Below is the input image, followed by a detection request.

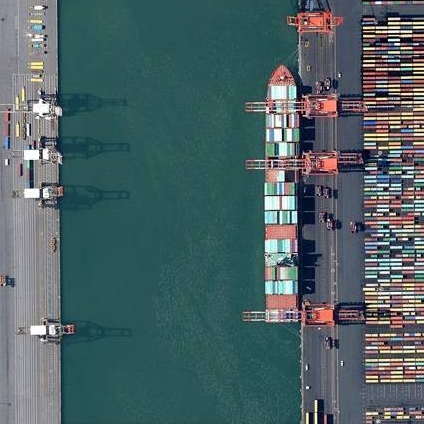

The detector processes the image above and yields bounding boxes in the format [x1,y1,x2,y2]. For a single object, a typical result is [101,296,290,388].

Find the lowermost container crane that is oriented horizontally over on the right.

[243,302,364,330]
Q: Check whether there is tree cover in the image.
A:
No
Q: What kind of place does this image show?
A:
port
